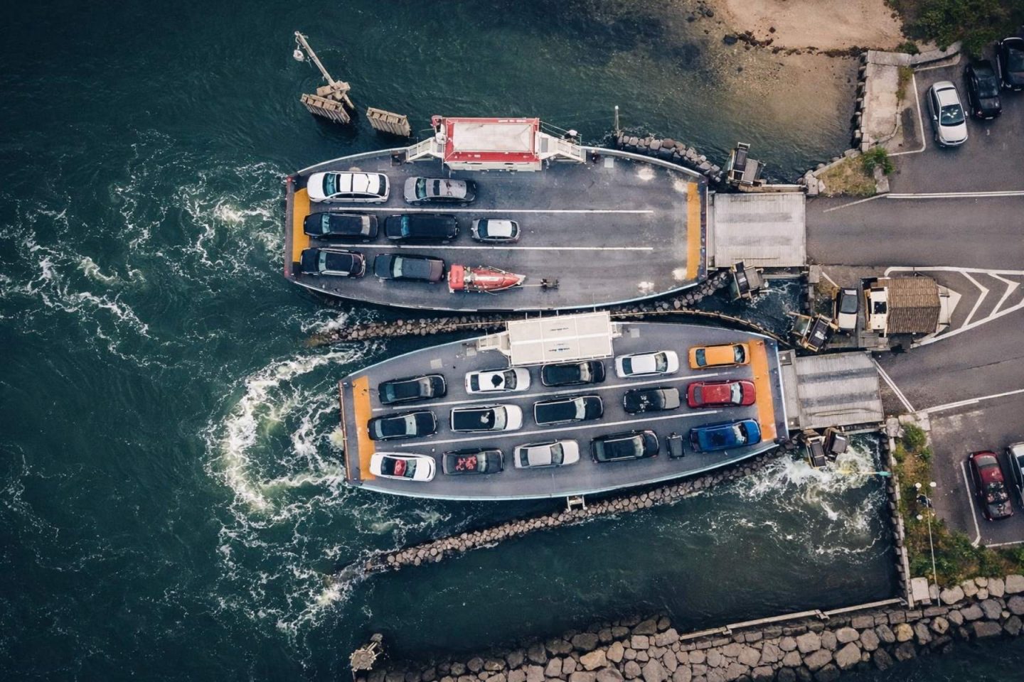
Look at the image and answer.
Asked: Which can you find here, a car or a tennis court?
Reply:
car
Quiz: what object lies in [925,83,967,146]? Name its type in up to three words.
car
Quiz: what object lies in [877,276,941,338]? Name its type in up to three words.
shed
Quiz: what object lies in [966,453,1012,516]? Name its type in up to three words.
car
